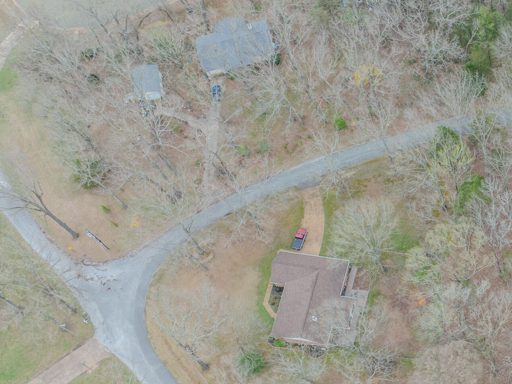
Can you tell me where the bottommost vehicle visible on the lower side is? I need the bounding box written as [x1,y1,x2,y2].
[291,228,308,252]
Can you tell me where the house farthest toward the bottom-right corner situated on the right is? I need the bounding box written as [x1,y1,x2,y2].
[270,247,357,345]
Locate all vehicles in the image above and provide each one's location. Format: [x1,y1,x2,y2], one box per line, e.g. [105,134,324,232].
[291,228,308,252]
[210,83,222,105]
